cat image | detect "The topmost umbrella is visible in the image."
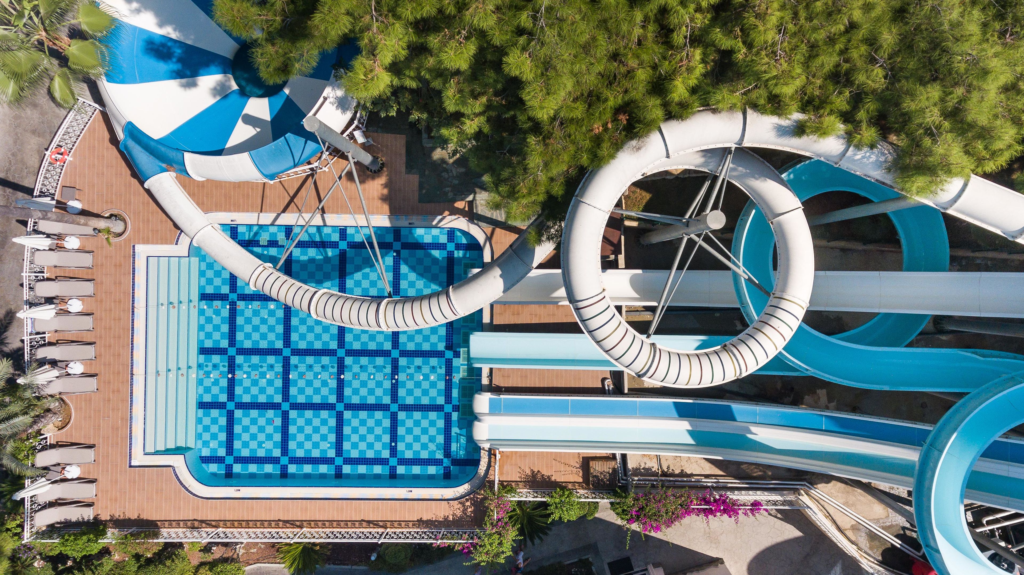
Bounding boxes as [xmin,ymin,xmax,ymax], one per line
[14,197,82,214]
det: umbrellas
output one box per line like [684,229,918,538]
[10,234,80,249]
[14,197,82,214]
[15,363,83,383]
[14,299,83,317]
[10,466,80,500]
